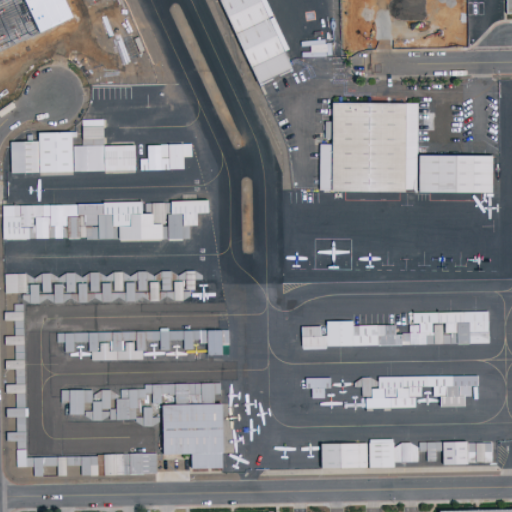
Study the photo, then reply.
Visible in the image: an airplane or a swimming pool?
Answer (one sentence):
Visible in the photo is an airplane.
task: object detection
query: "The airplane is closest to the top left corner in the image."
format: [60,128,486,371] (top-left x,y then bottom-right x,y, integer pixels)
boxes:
[28,179,44,202]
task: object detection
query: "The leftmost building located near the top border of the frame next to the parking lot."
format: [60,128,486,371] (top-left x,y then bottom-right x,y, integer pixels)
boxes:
[220,0,292,86]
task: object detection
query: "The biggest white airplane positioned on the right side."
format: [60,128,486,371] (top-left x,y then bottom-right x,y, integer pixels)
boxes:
[318,240,350,269]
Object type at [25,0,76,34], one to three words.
building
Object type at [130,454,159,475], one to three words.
hangar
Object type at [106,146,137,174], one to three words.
hangar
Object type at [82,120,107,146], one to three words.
building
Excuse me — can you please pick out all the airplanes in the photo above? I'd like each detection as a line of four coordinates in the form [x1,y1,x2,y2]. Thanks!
[248,418,262,442]
[417,390,439,405]
[166,344,188,359]
[70,344,92,360]
[144,344,166,359]
[320,392,343,409]
[274,444,296,460]
[468,254,490,270]
[242,394,256,415]
[484,196,502,220]
[473,195,489,213]
[226,385,241,407]
[28,179,44,202]
[286,254,308,269]
[227,407,242,429]
[186,342,207,356]
[230,454,250,470]
[358,254,382,270]
[318,240,350,269]
[333,380,354,394]
[230,430,244,452]
[344,396,366,410]
[257,402,274,425]
[192,284,216,302]
[301,444,320,458]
